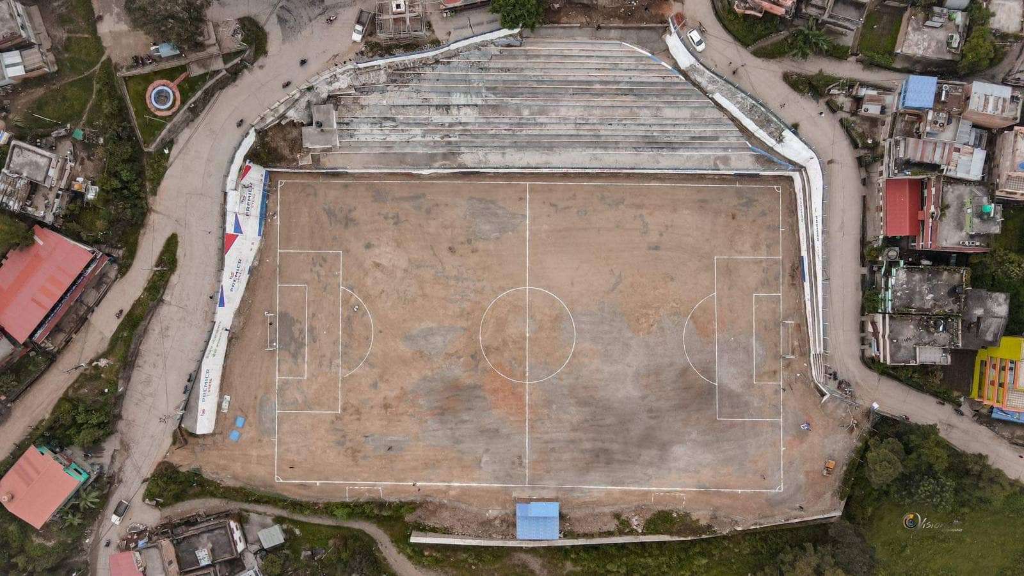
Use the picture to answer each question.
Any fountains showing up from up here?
Yes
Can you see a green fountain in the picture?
No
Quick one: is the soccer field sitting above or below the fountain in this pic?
below it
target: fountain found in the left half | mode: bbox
[145,80,181,115]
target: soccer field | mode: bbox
[168,173,861,539]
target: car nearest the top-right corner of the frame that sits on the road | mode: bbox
[687,27,704,51]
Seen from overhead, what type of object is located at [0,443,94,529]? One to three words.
house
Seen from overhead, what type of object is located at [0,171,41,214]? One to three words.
shed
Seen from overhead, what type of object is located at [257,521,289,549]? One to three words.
shed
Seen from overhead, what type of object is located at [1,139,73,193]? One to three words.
house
